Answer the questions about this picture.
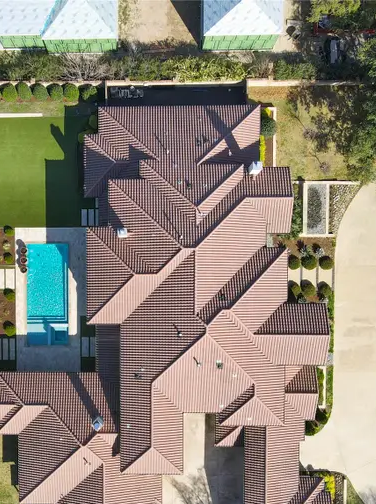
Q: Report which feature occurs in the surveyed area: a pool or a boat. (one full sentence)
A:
Looking from above, you can make out a pool.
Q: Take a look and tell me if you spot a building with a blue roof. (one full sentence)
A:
No, there isn't any building with a blue roof down there.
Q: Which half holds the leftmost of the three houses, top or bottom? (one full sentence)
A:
You can find the leftmost of the three houses in the top half.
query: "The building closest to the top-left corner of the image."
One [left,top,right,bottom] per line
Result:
[0,0,118,54]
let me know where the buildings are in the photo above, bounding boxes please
[0,103,332,504]
[200,0,283,49]
[0,0,118,54]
